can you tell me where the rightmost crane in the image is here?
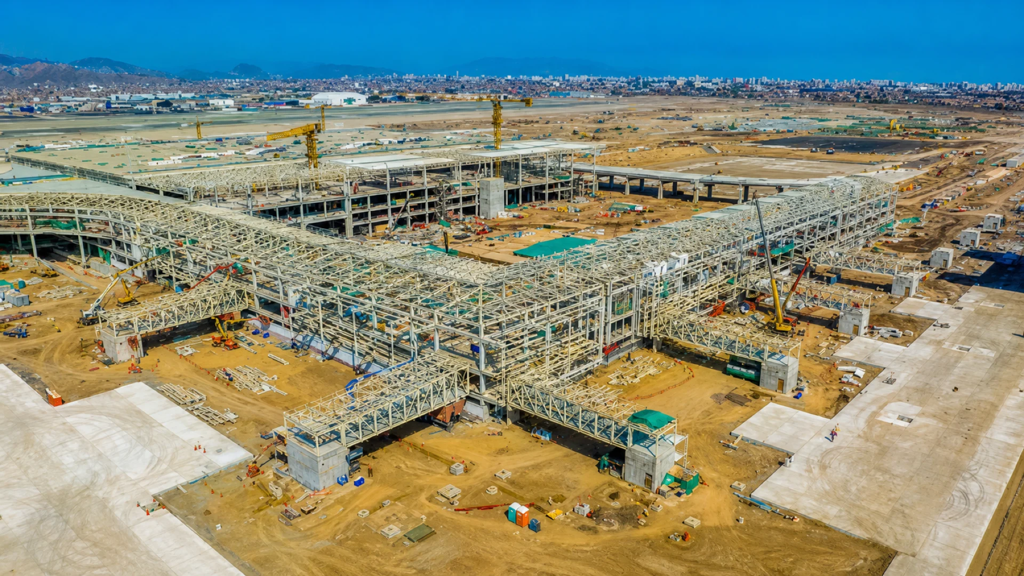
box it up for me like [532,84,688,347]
[750,190,794,333]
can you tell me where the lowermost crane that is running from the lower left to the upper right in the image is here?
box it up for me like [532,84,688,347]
[76,250,167,327]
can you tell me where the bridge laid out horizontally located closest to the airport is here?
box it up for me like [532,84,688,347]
[550,163,804,202]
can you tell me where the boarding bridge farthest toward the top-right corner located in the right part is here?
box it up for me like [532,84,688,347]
[809,241,924,277]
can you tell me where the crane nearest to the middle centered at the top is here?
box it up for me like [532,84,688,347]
[407,91,532,175]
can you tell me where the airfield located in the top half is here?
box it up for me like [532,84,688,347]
[0,98,778,144]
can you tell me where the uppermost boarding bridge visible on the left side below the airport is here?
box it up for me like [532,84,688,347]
[94,278,263,338]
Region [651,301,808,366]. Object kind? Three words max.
jet bridge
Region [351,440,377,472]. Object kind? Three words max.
truck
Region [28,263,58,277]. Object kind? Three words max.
work vehicle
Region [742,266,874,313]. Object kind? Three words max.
jet bridge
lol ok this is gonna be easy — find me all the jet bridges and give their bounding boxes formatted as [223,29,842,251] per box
[809,241,924,277]
[504,359,683,459]
[651,301,808,366]
[742,266,874,313]
[94,278,263,338]
[280,353,475,457]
